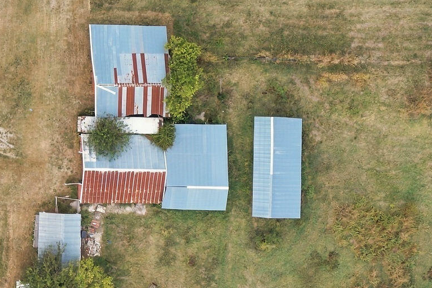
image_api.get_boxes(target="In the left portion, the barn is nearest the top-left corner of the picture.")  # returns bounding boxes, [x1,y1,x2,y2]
[89,24,171,117]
